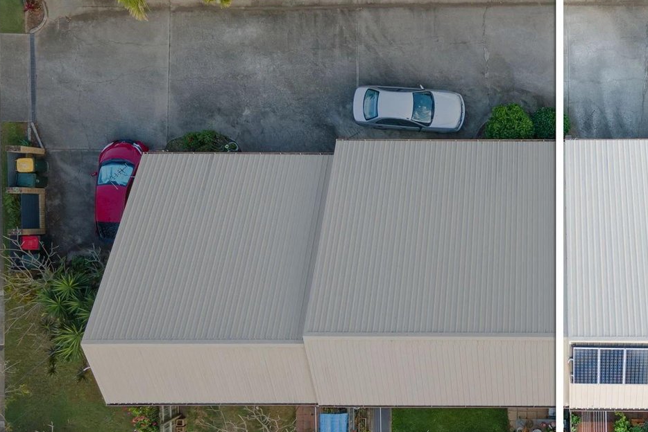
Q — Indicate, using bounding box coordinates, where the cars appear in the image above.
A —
[96,142,146,238]
[355,86,464,132]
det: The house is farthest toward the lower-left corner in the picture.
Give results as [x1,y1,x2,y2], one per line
[81,149,335,409]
